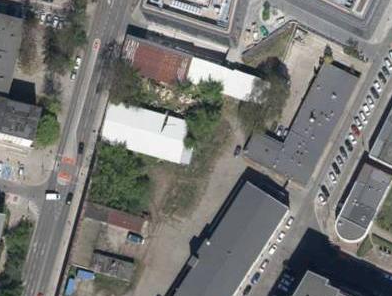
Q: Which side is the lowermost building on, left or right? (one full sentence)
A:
The lowermost building is on the right side of the image.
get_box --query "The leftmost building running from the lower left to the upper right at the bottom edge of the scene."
[166,183,289,296]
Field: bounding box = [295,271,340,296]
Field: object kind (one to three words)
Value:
building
